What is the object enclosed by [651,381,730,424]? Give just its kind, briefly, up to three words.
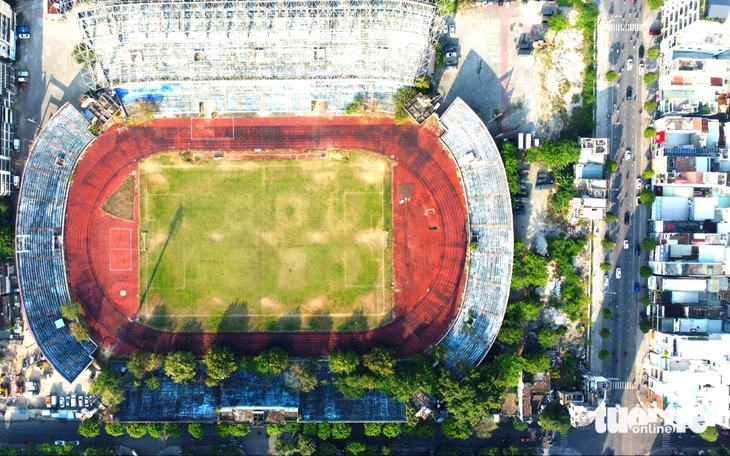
house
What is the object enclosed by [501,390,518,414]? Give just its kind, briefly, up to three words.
house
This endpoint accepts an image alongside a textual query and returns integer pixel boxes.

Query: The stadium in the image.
[14,0,515,423]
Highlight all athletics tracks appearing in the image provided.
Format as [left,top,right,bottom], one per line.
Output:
[65,116,468,356]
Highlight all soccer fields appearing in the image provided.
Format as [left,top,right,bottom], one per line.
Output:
[139,150,393,331]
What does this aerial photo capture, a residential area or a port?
residential area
